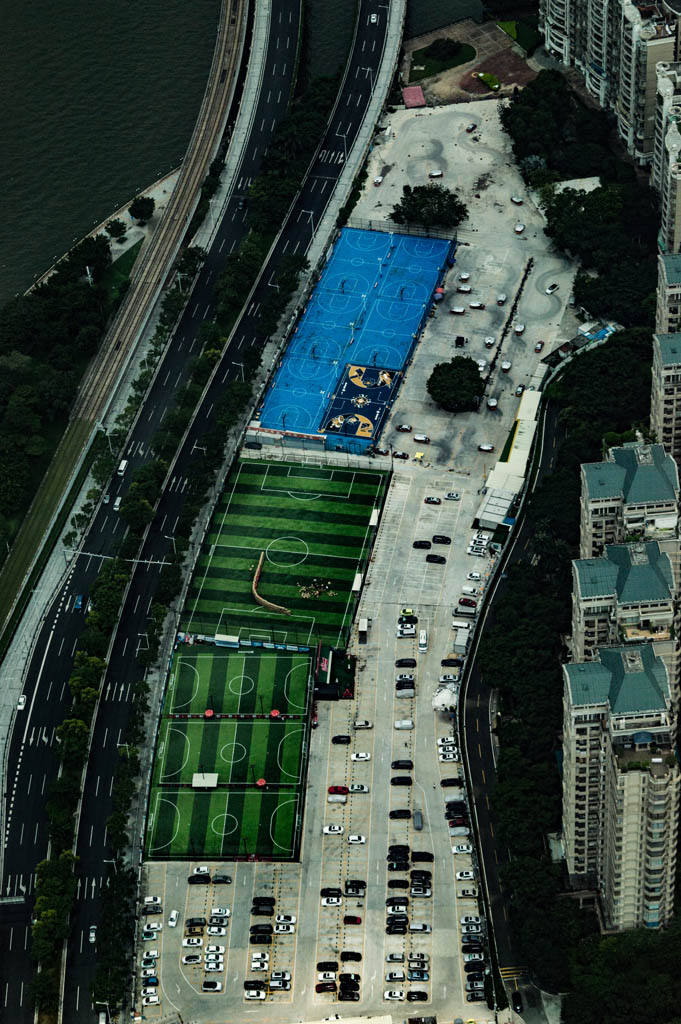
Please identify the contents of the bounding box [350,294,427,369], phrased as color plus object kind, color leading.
blue basketball court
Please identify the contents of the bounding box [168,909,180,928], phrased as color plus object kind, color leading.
white vehicle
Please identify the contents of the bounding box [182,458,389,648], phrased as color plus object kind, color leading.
green soccer field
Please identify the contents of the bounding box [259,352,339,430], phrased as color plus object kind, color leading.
blue basketball court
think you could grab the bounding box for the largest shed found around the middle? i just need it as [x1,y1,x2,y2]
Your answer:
[244,429,327,453]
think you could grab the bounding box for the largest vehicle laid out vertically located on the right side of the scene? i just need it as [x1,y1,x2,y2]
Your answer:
[454,629,467,655]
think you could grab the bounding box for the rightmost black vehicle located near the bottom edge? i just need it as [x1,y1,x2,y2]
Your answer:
[511,991,523,1011]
